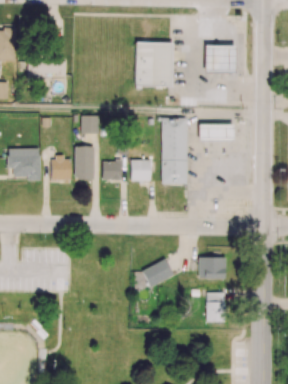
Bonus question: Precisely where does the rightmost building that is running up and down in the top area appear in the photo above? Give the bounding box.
[158,118,188,186]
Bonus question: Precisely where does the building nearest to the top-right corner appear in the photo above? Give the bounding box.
[136,42,174,90]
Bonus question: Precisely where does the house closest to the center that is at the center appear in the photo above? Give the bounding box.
[130,160,152,182]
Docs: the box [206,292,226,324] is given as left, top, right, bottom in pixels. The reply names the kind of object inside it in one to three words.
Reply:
house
